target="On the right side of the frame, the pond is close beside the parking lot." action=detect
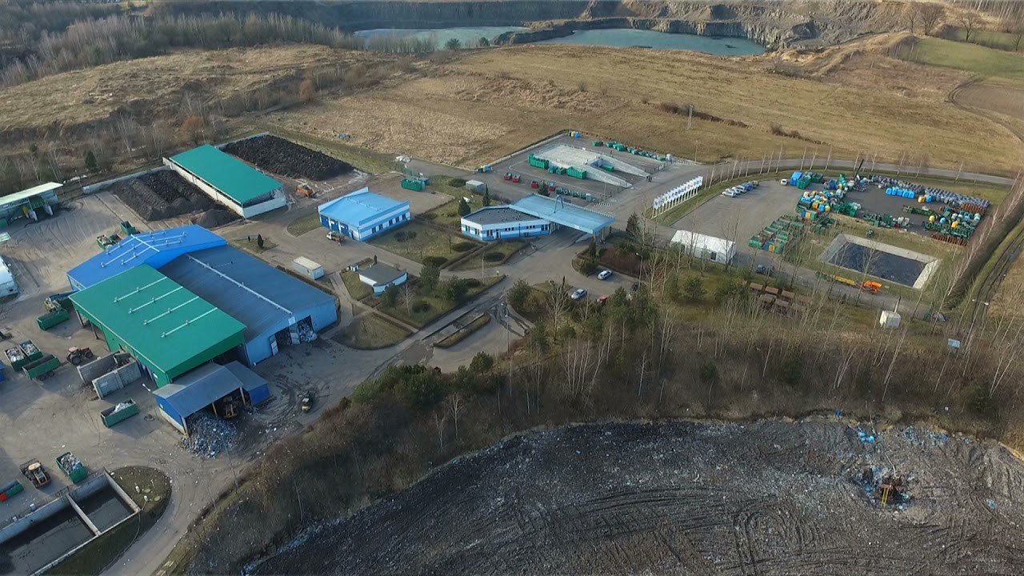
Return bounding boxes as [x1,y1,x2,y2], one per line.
[816,233,944,290]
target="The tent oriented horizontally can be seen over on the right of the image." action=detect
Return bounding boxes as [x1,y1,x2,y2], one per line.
[670,235,732,266]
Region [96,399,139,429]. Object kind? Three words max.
shipping container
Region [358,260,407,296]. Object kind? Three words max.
building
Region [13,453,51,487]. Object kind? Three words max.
work vehicle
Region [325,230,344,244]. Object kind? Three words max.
vehicle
